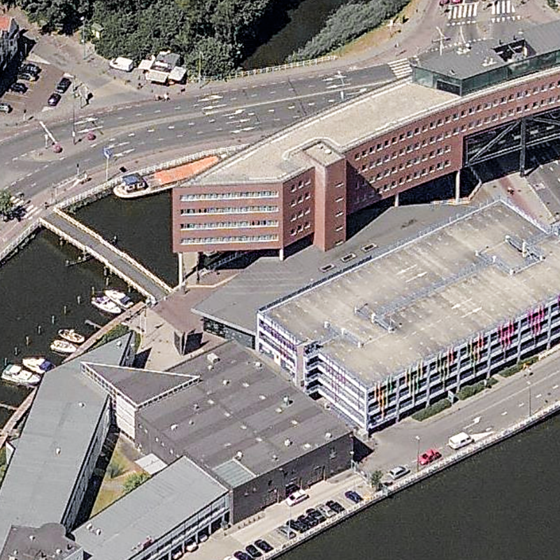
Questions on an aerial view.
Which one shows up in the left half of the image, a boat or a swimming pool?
boat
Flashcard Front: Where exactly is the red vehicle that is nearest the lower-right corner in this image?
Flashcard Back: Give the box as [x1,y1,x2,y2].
[418,451,440,465]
